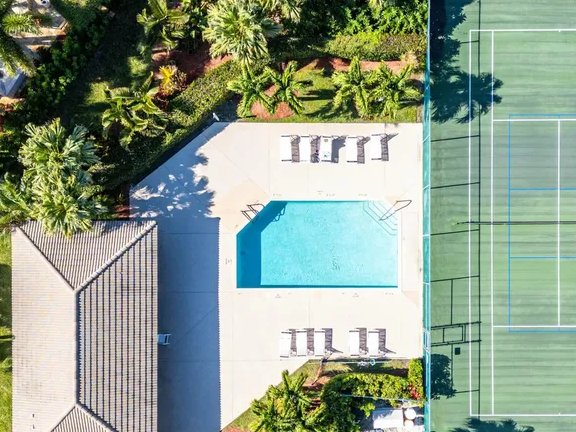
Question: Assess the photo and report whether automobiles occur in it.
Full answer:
No, I find no automobile anywhere in the image.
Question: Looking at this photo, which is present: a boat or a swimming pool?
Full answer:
It is a swimming pool that can be seen here.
